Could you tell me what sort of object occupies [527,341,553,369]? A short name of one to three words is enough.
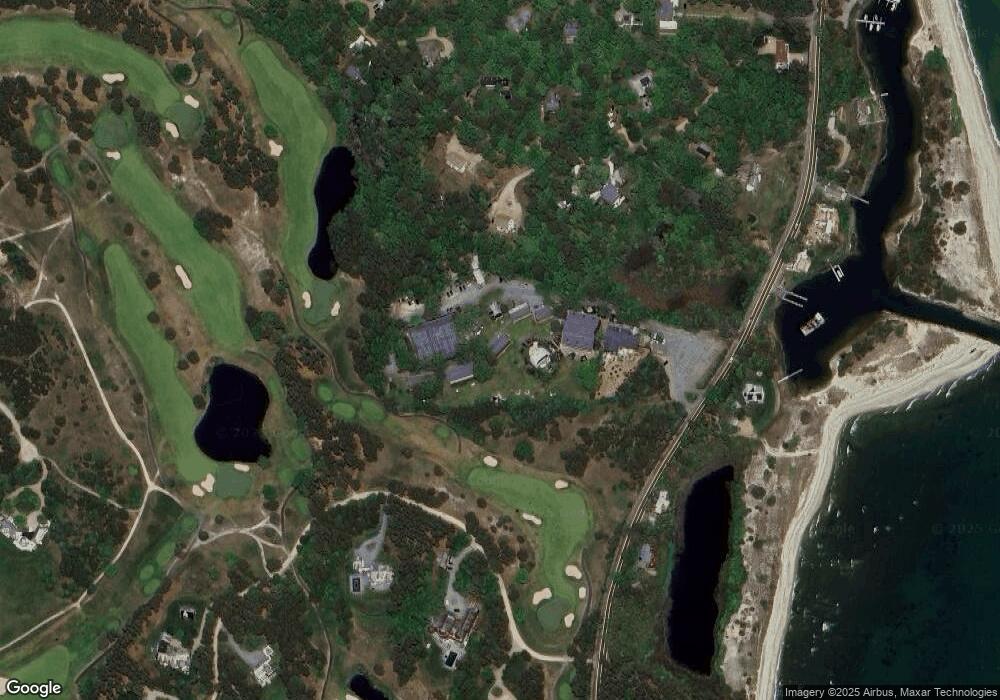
building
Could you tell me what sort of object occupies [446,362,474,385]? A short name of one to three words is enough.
building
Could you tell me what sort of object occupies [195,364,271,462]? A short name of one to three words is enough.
pond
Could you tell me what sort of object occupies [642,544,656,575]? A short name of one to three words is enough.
house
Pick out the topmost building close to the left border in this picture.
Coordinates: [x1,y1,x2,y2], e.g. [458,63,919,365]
[0,512,50,554]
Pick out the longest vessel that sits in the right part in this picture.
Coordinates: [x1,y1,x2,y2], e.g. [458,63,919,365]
[800,312,825,337]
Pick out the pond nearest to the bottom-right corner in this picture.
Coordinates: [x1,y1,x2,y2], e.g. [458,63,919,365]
[669,466,732,673]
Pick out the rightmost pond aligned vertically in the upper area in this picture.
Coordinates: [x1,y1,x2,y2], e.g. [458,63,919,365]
[309,147,357,279]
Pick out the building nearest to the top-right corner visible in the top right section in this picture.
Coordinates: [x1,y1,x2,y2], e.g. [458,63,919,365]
[857,98,887,123]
